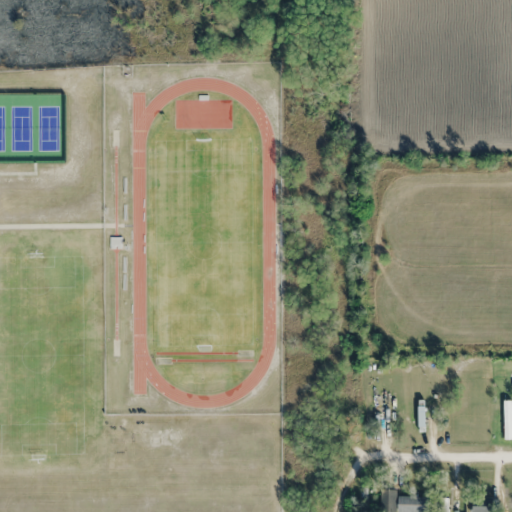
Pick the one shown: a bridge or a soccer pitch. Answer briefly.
soccer pitch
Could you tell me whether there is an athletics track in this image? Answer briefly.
Yes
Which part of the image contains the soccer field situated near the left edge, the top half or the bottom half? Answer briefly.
bottom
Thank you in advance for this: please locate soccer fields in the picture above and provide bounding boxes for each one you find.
[146,90,263,395]
[0,254,86,457]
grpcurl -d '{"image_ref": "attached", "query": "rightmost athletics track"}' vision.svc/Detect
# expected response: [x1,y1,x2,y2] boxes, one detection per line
[134,78,276,408]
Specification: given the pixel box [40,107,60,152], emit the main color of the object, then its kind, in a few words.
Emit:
blue tennis court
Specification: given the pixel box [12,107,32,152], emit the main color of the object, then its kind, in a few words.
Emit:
blue tennis court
